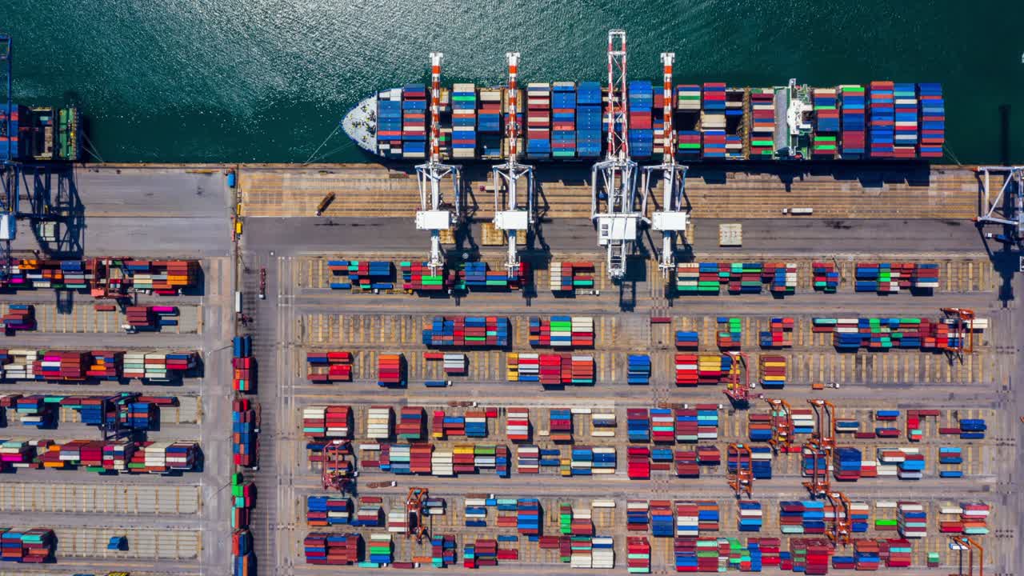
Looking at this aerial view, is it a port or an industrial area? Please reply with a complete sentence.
What you see here is a port.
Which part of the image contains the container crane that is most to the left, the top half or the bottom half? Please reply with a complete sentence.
You can find the container crane that is most to the left in the top half.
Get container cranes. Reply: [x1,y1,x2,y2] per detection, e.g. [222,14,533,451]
[724,438,753,490]
[935,310,974,350]
[323,436,349,486]
[945,529,984,576]
[721,351,748,395]
[761,398,791,445]
[104,388,144,439]
[968,163,1024,219]
[488,52,537,279]
[823,484,850,541]
[415,52,467,279]
[576,30,642,282]
[797,438,829,492]
[406,479,428,534]
[628,52,689,279]
[804,397,836,448]
[86,258,134,298]
[0,34,77,275]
